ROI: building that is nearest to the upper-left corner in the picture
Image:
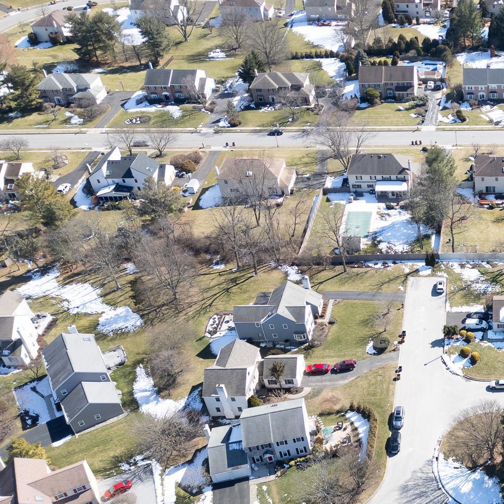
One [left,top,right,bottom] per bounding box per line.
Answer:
[31,10,81,44]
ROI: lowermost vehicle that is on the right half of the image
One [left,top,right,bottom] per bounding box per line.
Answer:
[388,433,400,455]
